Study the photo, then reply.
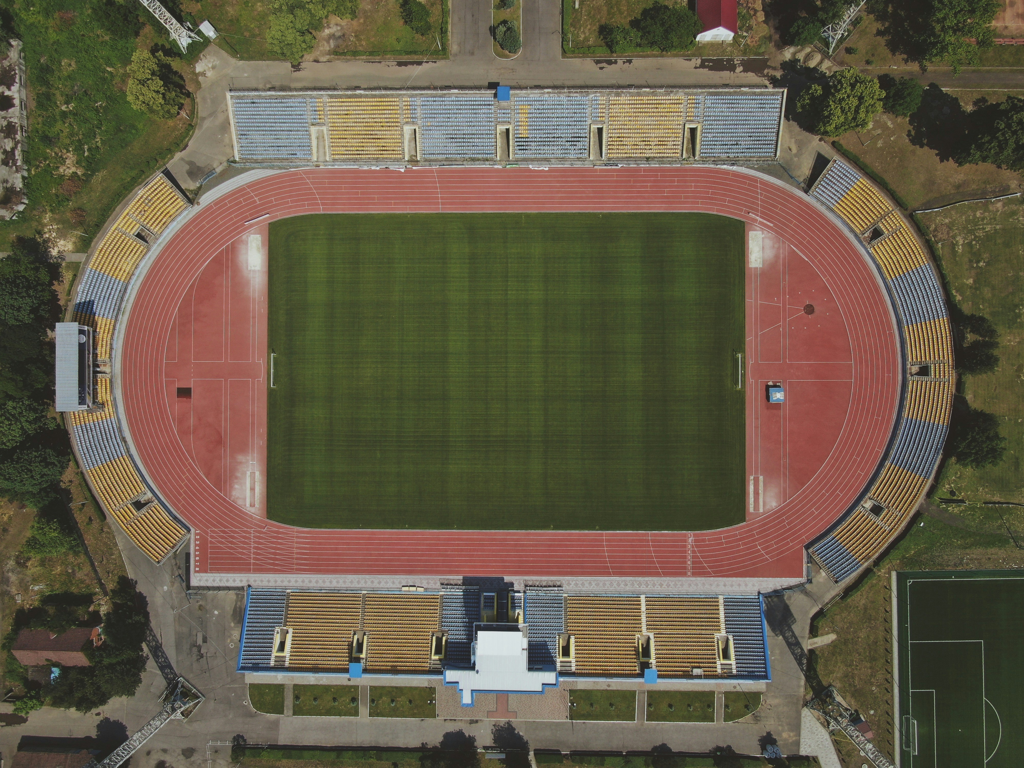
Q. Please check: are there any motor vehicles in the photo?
No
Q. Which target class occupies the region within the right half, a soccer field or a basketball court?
soccer field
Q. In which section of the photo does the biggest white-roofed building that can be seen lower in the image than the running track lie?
bottom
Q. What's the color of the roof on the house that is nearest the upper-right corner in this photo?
red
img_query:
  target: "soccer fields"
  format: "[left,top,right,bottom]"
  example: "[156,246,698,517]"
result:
[897,568,1024,768]
[266,213,746,531]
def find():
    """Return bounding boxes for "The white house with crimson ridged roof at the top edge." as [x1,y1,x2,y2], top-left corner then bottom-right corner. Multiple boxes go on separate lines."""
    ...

[694,0,736,39]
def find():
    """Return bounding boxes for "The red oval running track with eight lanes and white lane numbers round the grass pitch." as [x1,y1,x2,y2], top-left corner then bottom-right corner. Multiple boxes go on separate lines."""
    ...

[121,166,899,580]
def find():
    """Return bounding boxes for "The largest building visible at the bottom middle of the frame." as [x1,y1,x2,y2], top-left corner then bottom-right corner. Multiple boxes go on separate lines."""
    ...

[442,621,560,707]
